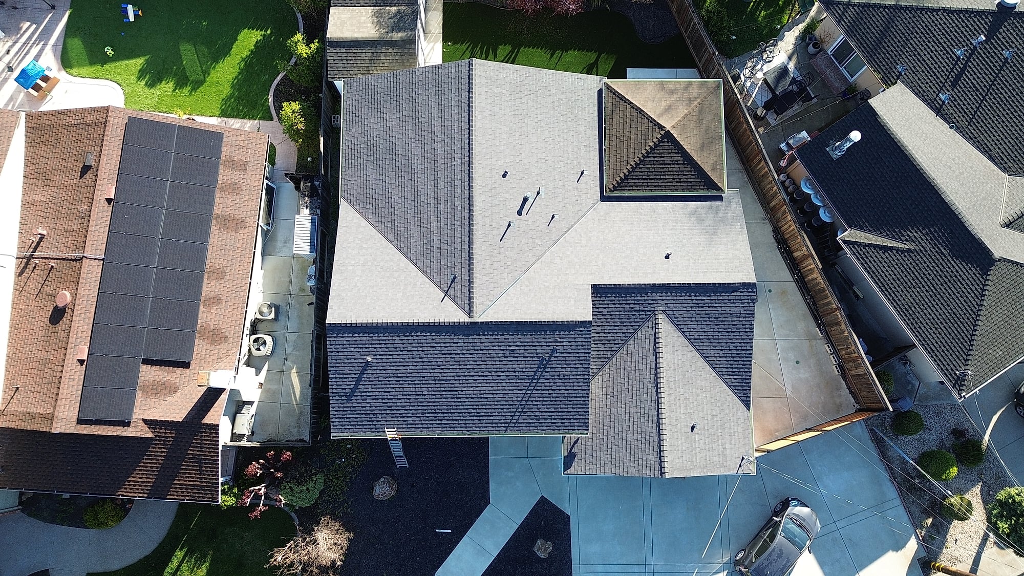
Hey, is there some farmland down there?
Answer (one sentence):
No, the picture contains no farmland.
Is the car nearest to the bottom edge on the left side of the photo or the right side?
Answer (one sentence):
The car nearest to the bottom edge appears in the right half of the scene.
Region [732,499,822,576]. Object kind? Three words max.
car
